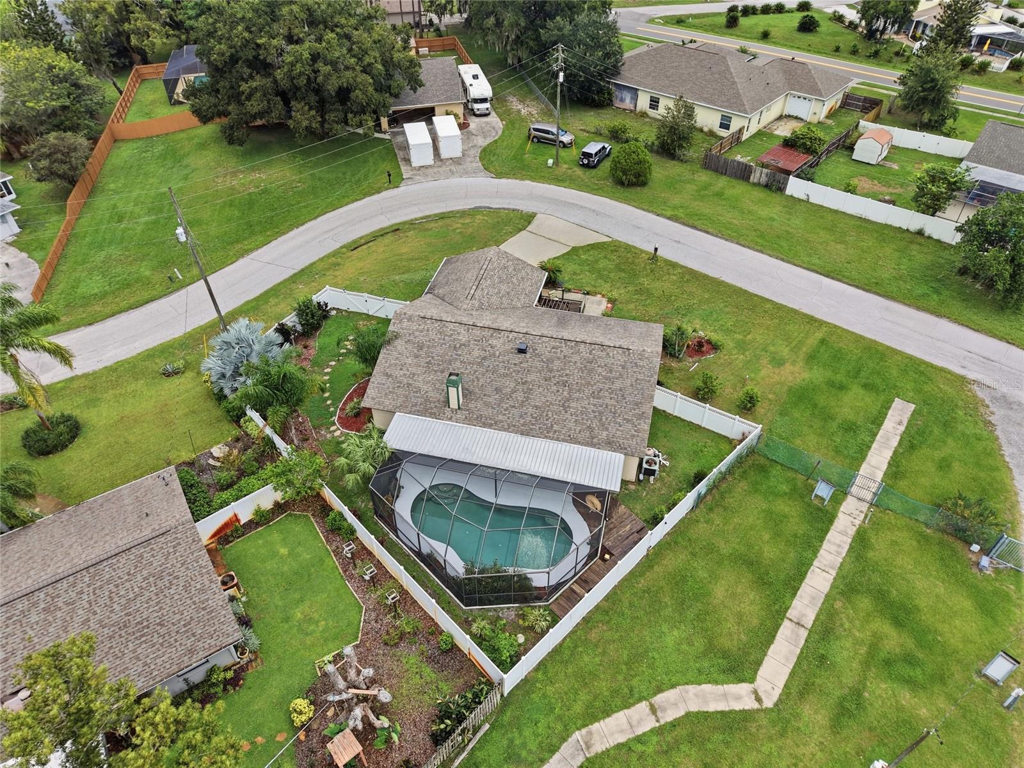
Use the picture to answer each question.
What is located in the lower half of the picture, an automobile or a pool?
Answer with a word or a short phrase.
pool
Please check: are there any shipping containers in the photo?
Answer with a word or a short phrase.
Yes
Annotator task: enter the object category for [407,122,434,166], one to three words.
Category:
shipping container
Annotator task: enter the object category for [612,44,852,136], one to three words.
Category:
house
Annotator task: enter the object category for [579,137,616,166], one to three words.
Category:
car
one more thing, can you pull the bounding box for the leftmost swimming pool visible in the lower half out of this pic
[410,481,573,569]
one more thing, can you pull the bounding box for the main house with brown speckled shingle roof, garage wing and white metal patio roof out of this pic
[360,246,664,519]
